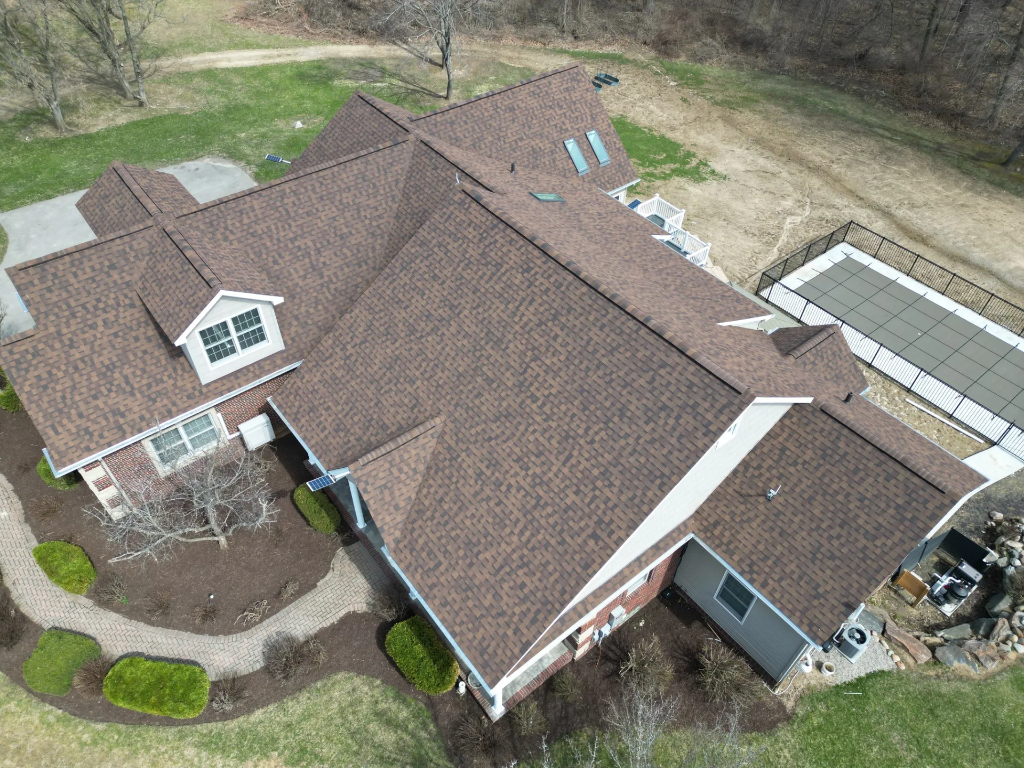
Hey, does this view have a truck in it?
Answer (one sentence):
No, no truck is visible in the scene.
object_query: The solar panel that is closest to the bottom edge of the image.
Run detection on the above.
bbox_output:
[309,475,333,491]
